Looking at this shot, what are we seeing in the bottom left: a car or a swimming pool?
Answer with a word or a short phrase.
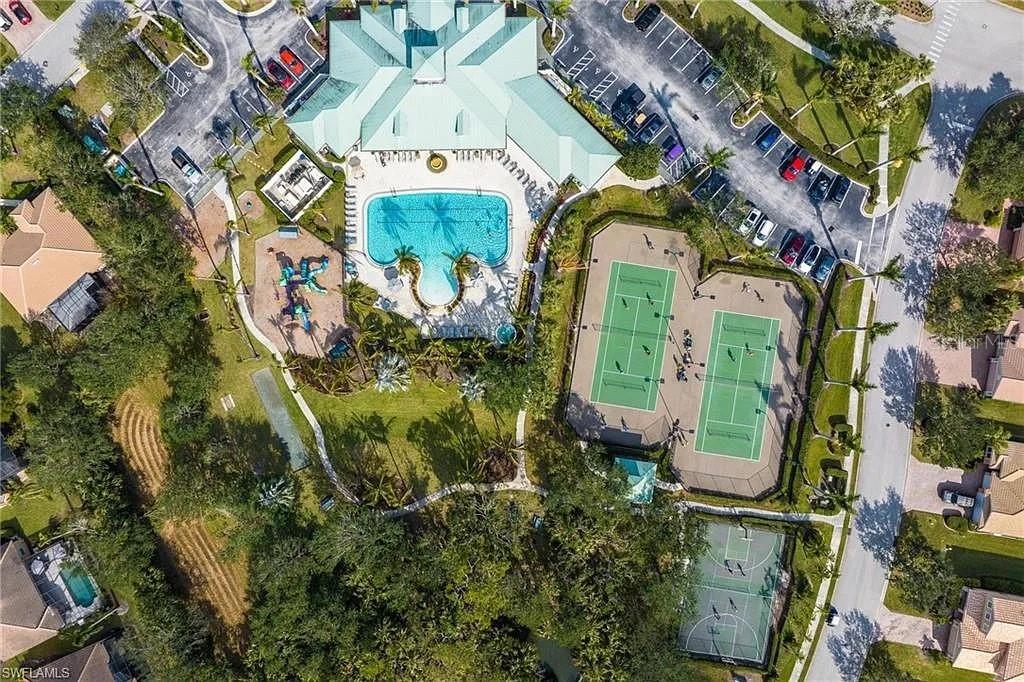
swimming pool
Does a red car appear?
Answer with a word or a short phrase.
Yes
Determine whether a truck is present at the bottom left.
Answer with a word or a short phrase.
No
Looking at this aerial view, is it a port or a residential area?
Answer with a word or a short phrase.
residential area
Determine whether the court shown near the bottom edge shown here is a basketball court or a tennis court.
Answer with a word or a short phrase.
basketball court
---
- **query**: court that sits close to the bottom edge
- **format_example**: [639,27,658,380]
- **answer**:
[674,517,782,660]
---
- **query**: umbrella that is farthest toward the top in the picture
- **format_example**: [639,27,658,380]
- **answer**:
[352,165,365,178]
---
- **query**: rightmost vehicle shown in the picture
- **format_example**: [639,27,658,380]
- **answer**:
[940,489,976,507]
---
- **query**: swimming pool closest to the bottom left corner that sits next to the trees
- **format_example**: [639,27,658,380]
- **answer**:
[58,564,99,609]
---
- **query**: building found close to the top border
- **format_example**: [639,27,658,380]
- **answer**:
[288,0,622,188]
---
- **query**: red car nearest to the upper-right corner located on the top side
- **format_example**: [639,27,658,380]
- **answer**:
[779,152,804,183]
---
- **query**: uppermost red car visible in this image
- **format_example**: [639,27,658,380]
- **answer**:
[9,0,33,26]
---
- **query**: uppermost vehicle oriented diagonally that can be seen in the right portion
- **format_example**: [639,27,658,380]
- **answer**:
[634,3,660,32]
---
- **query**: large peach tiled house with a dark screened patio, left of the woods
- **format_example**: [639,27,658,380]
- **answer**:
[0,187,111,333]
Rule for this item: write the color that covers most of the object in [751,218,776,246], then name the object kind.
white car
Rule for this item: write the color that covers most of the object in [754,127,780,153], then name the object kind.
blue car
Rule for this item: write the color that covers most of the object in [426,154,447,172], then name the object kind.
yellow fountain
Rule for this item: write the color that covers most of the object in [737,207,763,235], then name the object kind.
white car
